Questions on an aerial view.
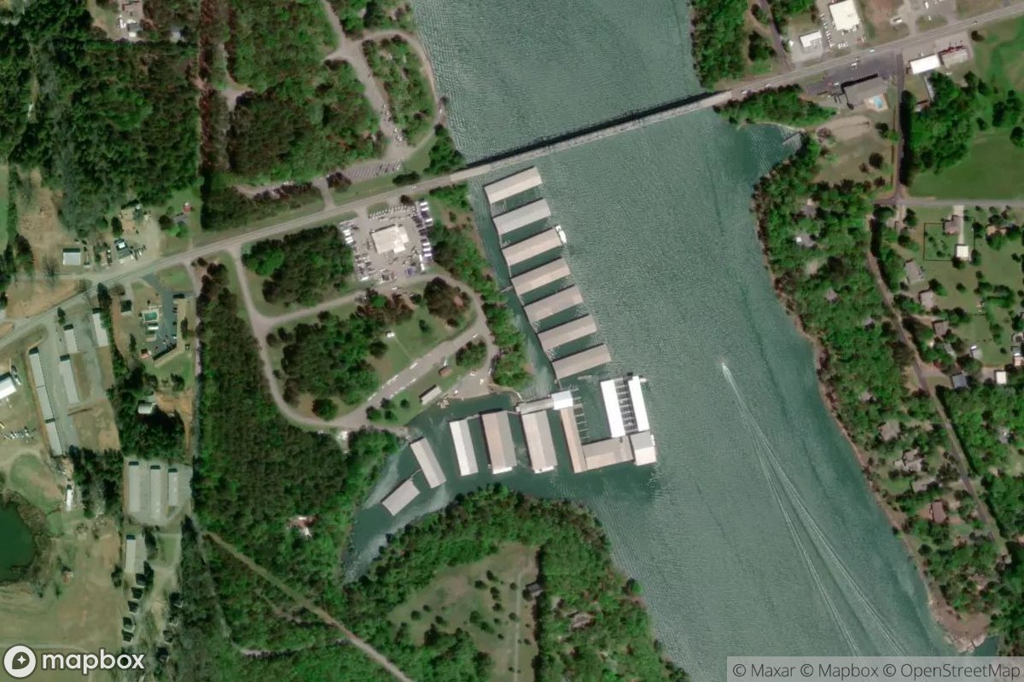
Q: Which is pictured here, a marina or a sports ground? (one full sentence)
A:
This looks like a marina.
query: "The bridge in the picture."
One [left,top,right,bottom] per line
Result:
[459,91,729,178]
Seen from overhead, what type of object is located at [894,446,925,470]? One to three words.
house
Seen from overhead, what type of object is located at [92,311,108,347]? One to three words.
shed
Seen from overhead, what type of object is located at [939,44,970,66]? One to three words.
building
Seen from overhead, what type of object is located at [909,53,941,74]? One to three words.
building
